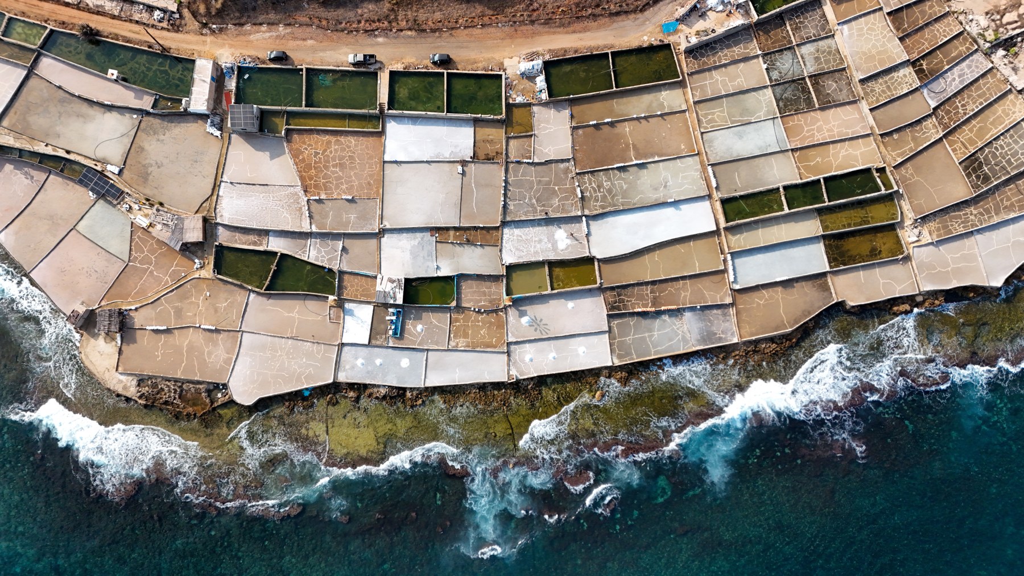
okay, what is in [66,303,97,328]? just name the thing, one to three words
shed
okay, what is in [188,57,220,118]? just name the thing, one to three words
building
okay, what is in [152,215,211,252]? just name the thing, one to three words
shed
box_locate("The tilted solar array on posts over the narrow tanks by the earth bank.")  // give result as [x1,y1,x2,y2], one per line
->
[77,167,126,200]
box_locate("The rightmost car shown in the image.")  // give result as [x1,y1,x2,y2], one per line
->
[427,50,451,64]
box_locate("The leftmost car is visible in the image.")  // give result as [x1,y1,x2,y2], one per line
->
[265,47,288,61]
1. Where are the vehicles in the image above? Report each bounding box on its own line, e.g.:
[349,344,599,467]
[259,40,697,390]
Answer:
[427,50,451,64]
[346,50,378,65]
[265,47,288,61]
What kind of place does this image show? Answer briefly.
industrial area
